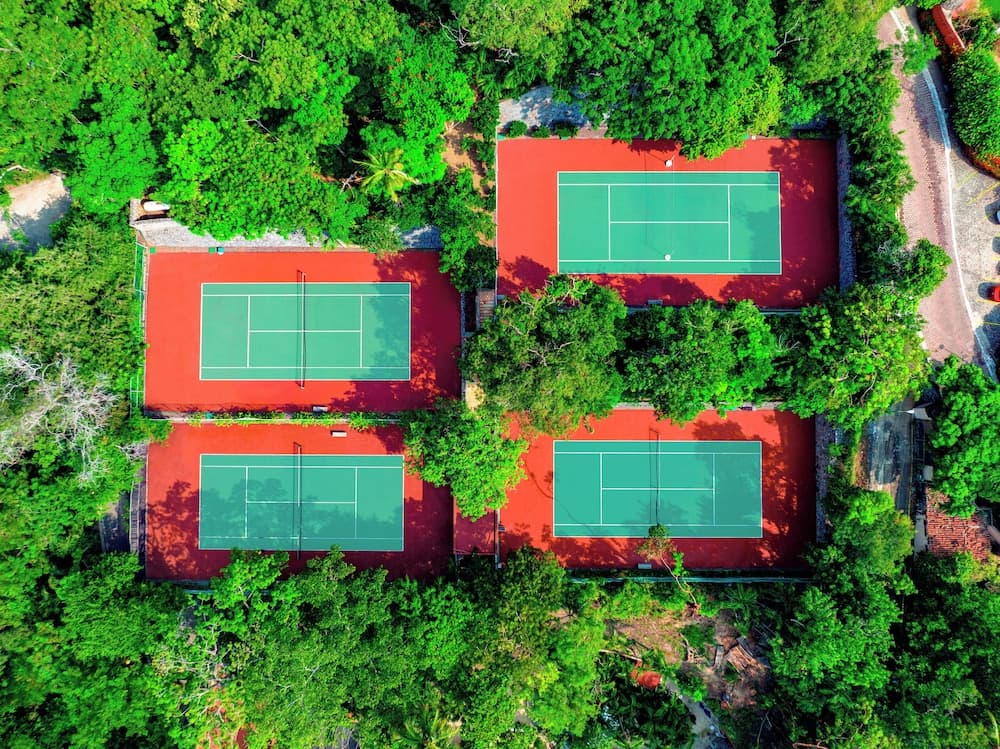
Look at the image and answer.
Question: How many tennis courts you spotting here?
four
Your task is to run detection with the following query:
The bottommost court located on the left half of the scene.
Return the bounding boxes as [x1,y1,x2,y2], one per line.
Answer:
[146,423,452,583]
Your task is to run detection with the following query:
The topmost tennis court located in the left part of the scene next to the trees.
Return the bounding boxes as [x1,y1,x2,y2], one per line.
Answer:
[145,251,461,412]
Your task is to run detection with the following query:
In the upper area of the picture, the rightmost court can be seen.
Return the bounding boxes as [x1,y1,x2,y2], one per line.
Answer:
[497,139,839,307]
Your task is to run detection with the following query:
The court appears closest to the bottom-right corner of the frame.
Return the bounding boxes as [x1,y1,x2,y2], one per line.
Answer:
[500,409,815,569]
